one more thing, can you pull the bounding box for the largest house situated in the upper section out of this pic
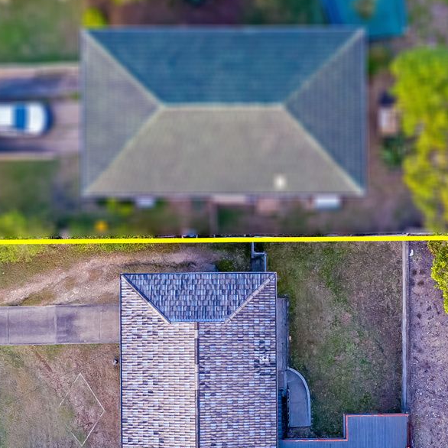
[80,25,368,198]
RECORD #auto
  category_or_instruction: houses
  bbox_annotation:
[80,25,368,198]
[119,271,278,448]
